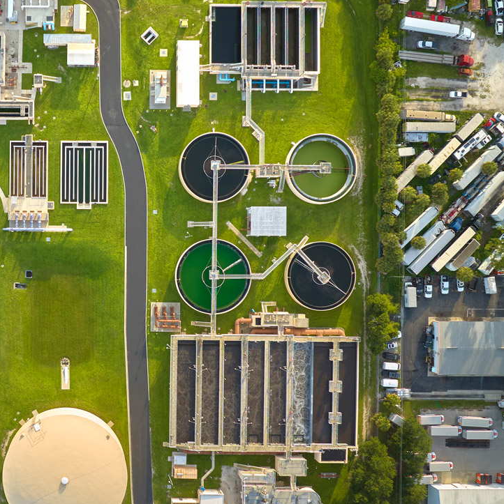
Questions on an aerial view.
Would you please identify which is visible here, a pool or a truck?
truck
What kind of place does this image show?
industrial area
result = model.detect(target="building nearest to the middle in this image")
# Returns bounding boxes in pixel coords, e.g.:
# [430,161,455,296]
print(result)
[249,306,309,327]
